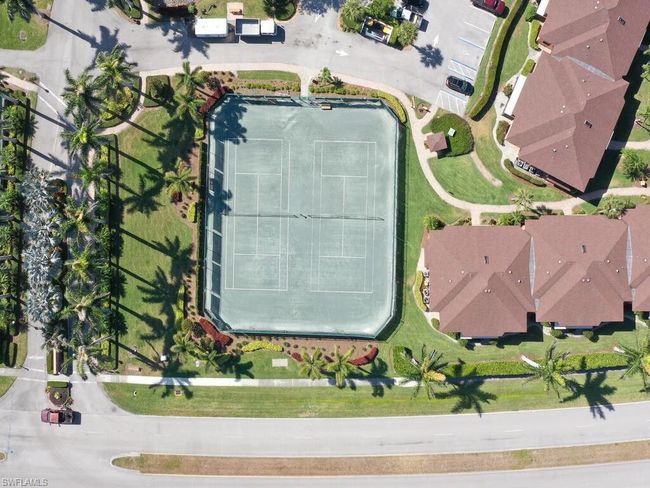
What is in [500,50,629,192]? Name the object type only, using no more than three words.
house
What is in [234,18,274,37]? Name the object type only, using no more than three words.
vehicle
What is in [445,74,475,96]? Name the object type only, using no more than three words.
car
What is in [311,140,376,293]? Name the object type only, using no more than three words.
tennis court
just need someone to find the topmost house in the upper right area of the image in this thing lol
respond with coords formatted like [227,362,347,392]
[529,0,650,81]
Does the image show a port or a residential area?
residential area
